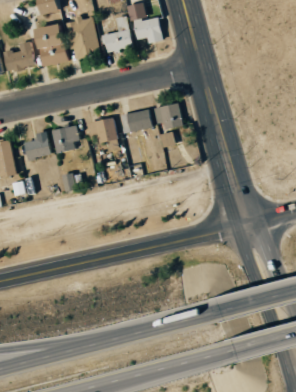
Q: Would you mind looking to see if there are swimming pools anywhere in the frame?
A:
No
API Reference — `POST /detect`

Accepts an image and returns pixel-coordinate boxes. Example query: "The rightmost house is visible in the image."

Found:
[156,103,186,132]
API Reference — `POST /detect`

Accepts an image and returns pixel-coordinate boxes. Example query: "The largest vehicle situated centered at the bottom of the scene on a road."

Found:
[154,310,200,326]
